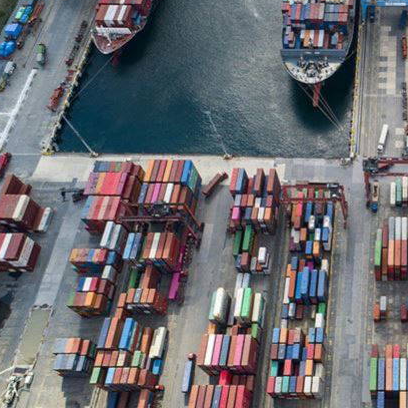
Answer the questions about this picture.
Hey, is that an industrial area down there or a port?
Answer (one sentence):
The picture captures a port.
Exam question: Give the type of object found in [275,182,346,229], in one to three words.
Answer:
container crane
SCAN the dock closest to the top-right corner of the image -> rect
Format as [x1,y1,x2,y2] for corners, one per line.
[350,0,408,159]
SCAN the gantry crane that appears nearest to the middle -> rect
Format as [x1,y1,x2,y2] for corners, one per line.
[113,201,201,249]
